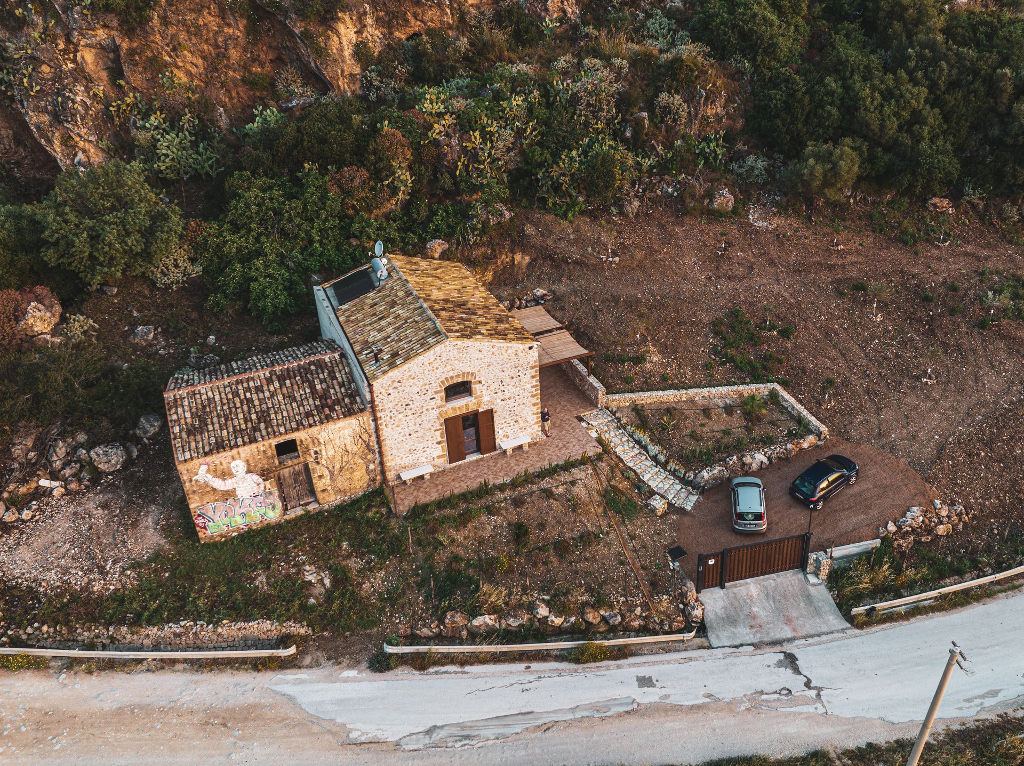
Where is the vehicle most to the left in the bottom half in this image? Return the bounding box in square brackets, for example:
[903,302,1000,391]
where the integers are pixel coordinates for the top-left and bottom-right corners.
[729,477,768,530]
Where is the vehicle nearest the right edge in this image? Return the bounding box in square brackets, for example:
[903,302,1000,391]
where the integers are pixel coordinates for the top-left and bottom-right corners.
[789,458,857,510]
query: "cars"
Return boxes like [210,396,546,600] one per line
[789,458,857,510]
[729,477,768,530]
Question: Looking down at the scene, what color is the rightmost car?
black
